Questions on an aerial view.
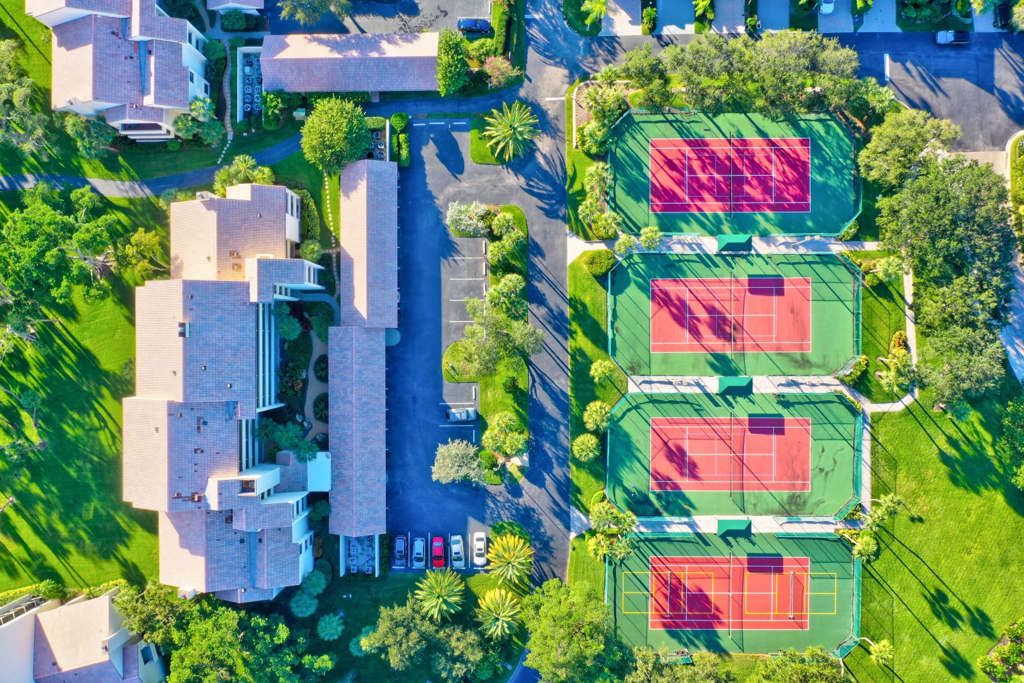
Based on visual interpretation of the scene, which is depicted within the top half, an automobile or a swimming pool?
automobile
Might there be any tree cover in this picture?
Yes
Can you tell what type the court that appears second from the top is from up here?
tennis court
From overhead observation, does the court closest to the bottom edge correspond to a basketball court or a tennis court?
tennis court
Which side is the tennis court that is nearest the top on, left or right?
right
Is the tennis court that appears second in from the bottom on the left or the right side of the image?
right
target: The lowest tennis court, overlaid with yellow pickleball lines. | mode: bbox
[607,534,853,654]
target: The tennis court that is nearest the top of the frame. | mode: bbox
[610,112,854,235]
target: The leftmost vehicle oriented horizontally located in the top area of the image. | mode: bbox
[458,18,491,34]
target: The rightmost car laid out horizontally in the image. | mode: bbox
[934,29,970,46]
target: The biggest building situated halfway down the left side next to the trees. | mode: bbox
[123,184,331,603]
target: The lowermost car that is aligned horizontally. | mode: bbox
[446,408,475,422]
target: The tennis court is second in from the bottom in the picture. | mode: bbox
[608,394,854,516]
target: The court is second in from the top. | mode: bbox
[610,255,854,376]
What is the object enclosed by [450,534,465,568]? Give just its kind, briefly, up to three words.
car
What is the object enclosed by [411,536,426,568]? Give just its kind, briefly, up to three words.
car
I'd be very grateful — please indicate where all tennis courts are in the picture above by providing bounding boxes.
[610,255,854,376]
[610,112,854,235]
[608,394,854,516]
[607,534,853,654]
